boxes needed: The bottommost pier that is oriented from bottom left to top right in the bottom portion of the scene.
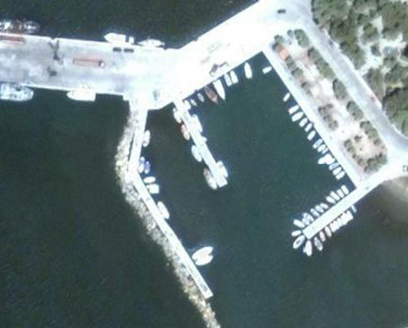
[303,183,389,240]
